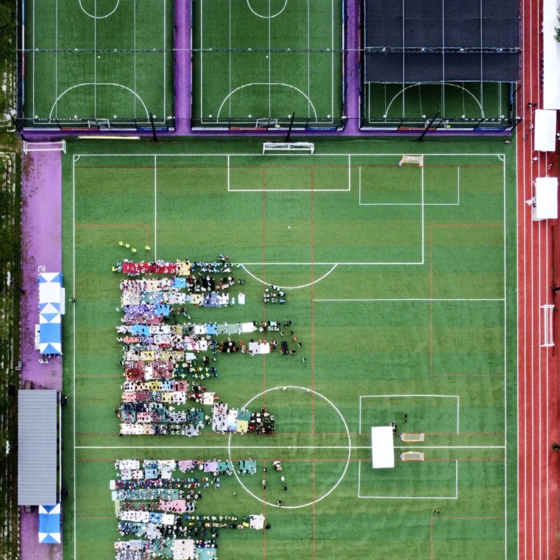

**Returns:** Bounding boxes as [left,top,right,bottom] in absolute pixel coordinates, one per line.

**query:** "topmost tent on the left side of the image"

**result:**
[40,273,62,315]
